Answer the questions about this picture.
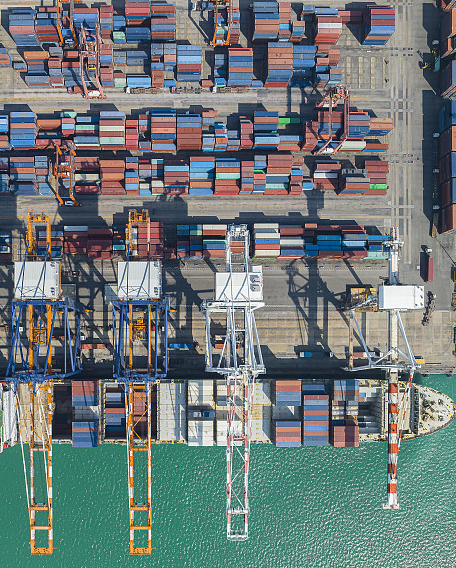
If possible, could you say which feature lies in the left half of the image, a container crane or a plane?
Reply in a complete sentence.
Looking in the left half of the image, you will find a container crane.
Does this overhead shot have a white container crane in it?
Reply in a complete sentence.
Yes, there's a white container crane here.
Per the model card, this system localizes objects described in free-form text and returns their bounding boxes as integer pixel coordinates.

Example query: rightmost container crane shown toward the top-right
[315,88,349,155]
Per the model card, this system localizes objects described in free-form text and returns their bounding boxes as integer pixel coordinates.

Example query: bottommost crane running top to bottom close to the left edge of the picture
[6,210,93,555]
